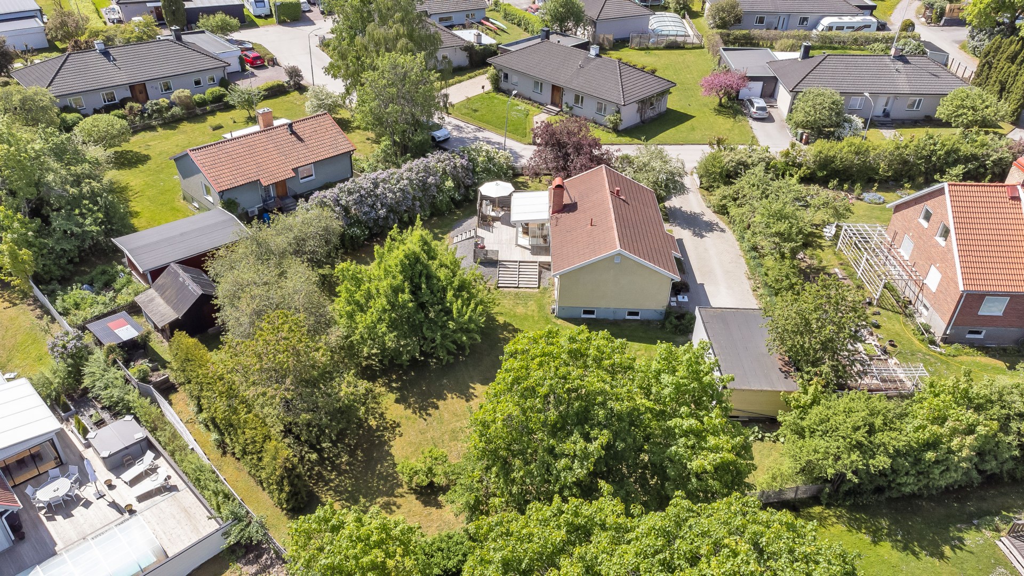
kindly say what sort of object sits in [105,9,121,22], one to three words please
boat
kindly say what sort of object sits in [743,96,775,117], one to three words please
car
